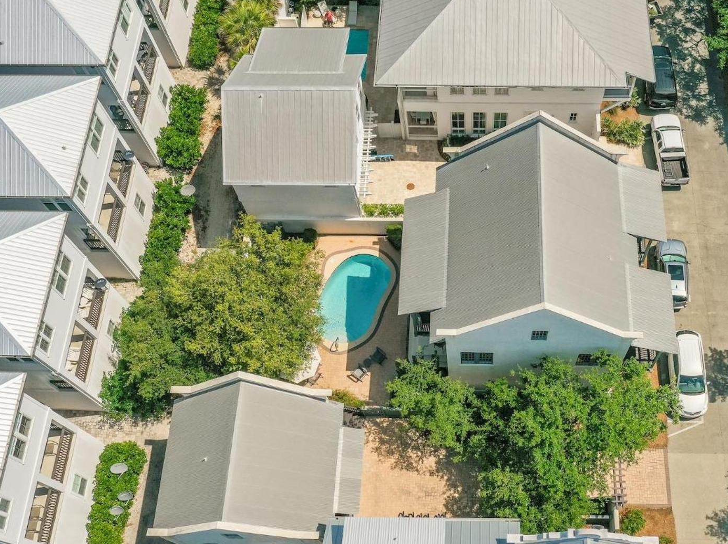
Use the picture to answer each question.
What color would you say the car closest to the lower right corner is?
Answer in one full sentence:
From above, the car closest to the lower right corner appears white.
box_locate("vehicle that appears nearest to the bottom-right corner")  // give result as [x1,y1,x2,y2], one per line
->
[669,327,717,415]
